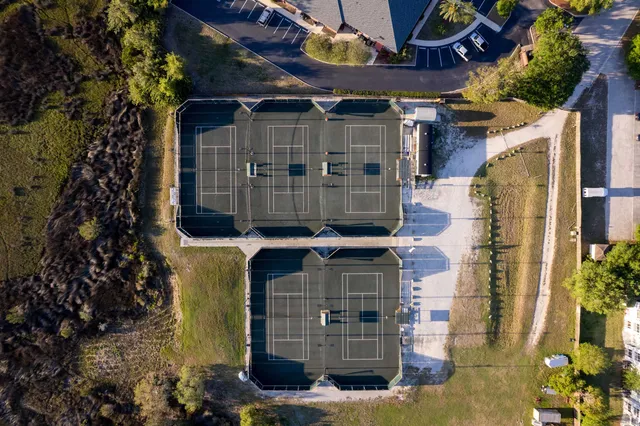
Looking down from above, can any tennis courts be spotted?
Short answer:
Yes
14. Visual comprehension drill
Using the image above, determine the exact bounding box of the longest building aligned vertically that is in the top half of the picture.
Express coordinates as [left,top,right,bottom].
[416,121,433,177]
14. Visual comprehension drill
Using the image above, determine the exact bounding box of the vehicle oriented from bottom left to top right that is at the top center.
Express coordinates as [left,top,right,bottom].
[258,9,273,26]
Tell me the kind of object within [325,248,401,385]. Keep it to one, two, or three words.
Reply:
tennis court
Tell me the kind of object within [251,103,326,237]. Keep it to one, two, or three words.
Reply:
tennis court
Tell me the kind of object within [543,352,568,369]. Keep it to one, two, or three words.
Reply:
shed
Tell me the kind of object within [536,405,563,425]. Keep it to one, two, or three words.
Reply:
shed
